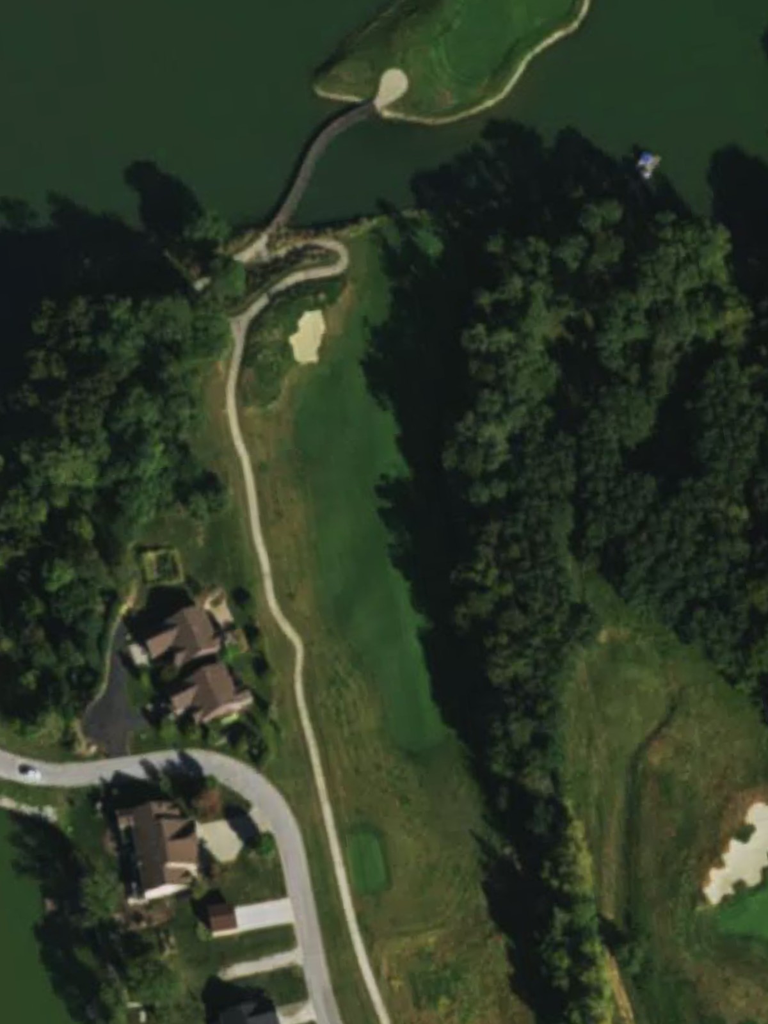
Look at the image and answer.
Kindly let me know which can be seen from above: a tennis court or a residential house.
residential house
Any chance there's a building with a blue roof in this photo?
No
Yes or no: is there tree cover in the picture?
Yes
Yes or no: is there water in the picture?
Yes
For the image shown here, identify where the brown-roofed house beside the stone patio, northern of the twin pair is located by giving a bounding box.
[138,606,222,671]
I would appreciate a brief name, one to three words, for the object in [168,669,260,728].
house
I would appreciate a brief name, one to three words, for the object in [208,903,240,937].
building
